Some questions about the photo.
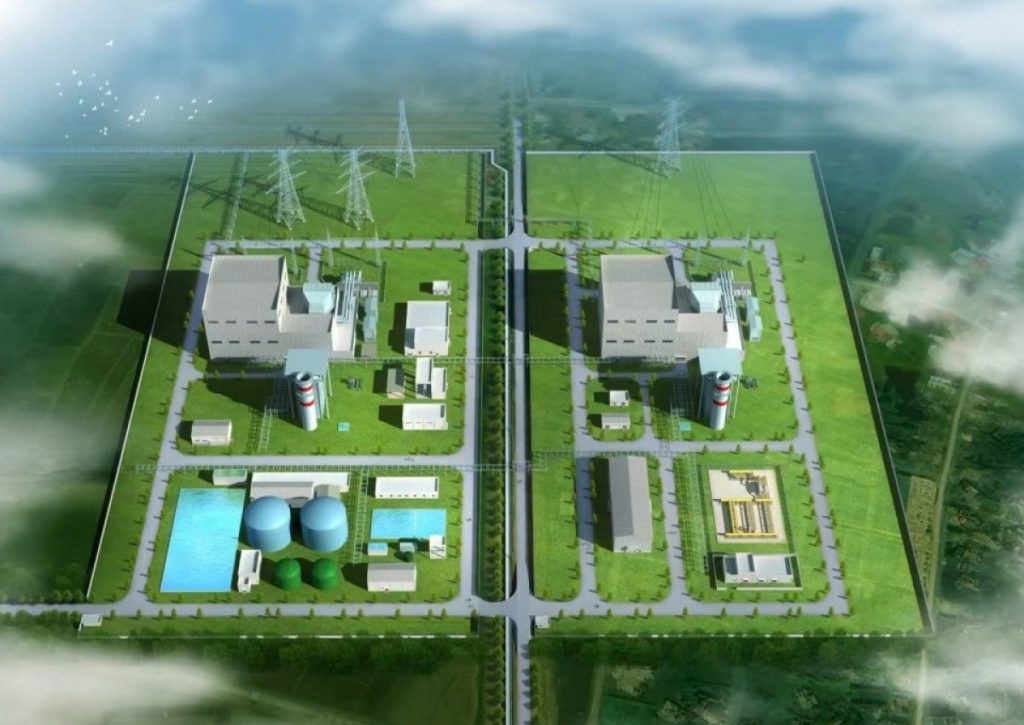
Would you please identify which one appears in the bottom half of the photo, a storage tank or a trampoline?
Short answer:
storage tank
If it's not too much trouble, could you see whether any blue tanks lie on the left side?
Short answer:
Yes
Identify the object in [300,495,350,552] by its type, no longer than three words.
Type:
storage tank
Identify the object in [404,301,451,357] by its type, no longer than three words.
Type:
building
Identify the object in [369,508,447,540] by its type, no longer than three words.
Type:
swimming pool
